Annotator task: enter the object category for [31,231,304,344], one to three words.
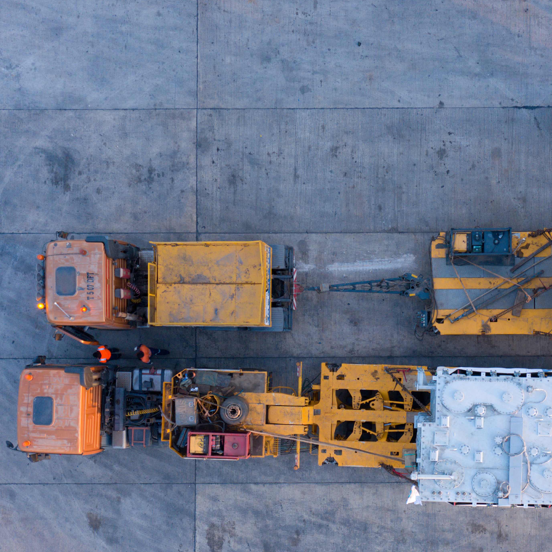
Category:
truck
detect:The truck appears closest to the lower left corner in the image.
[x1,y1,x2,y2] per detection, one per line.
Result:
[4,355,220,461]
